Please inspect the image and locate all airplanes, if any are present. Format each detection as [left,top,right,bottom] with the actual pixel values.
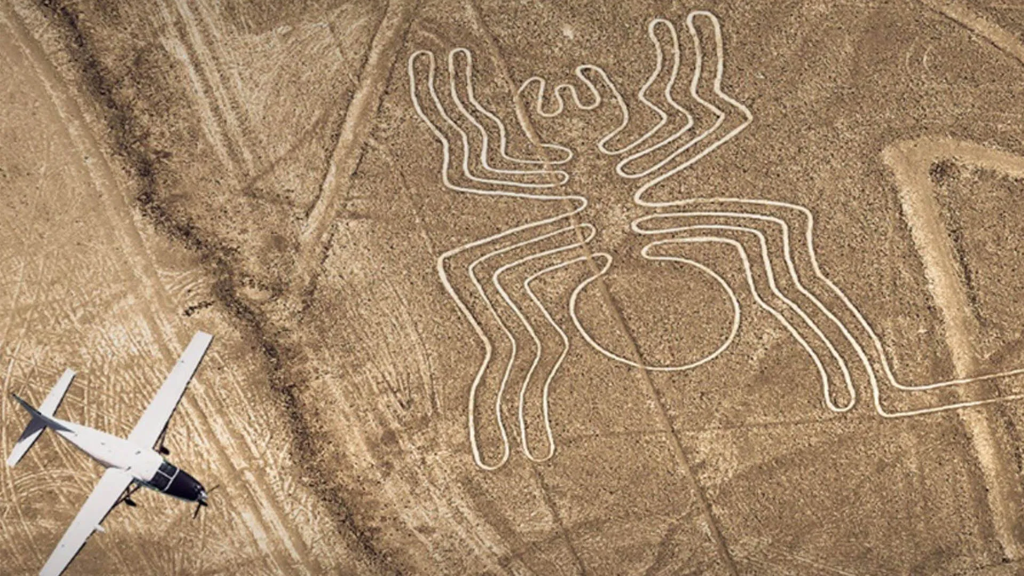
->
[4,329,216,576]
